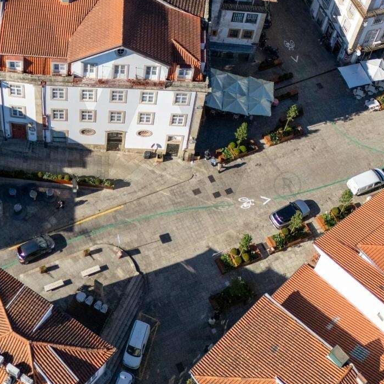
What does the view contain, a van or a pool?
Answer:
van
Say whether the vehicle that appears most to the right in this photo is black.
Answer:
No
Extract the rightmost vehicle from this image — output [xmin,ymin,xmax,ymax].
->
[346,168,384,196]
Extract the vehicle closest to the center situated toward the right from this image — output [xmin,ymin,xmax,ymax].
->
[272,200,313,229]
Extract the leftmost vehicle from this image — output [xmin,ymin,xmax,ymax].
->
[12,233,57,265]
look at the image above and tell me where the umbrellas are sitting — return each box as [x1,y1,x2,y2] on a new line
[224,91,249,120]
[203,87,228,115]
[151,142,165,161]
[269,97,282,116]
[228,75,252,95]
[359,60,384,87]
[249,79,273,101]
[337,65,372,92]
[246,97,271,125]
[207,70,231,91]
